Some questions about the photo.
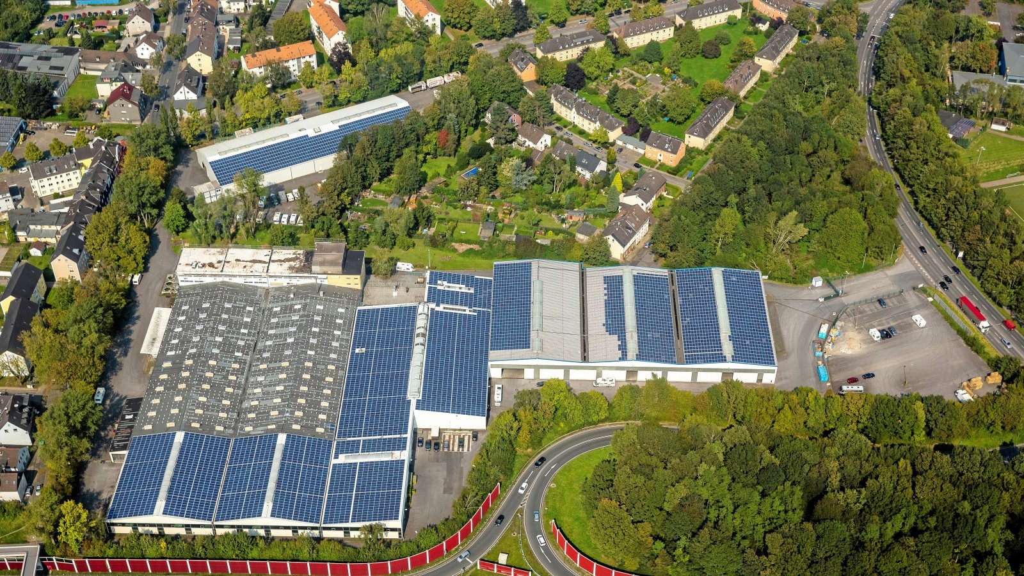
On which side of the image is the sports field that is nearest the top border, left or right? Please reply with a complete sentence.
It is on the right.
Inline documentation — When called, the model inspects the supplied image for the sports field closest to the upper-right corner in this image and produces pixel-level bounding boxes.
[955,128,1024,182]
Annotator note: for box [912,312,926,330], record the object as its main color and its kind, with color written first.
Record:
white camper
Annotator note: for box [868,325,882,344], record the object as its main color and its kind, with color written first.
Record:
white camper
